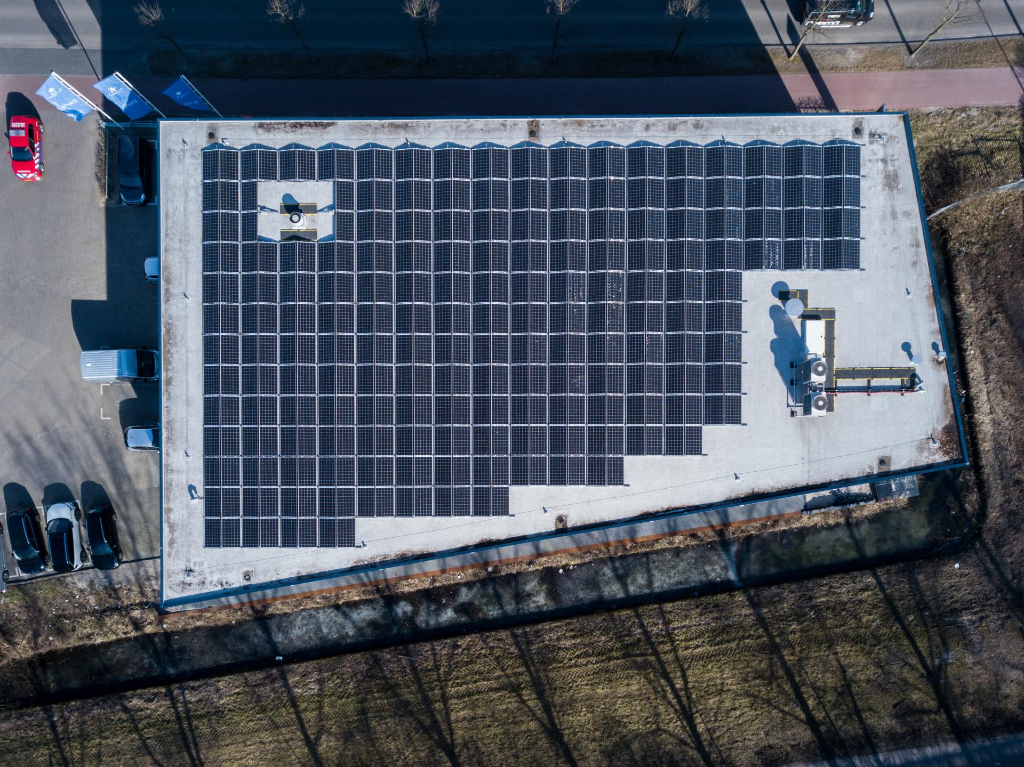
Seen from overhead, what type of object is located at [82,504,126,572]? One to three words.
car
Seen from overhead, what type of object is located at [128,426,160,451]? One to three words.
car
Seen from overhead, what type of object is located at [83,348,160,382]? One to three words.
van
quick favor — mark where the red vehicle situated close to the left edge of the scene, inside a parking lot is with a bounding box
[2,114,44,181]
